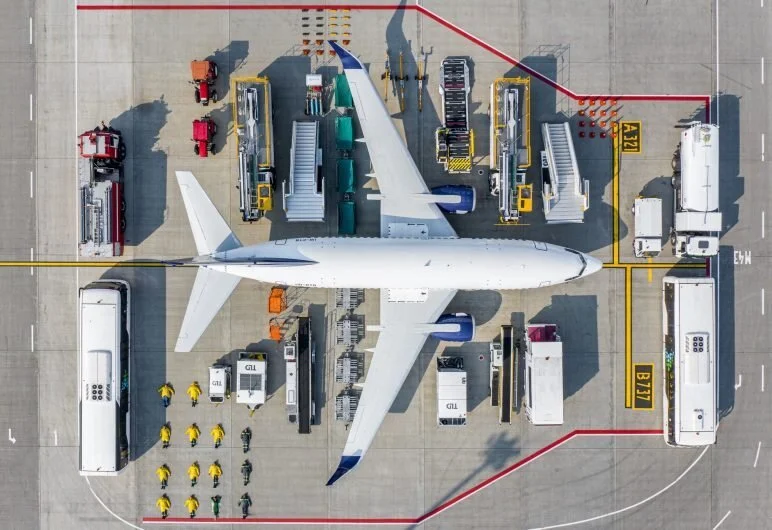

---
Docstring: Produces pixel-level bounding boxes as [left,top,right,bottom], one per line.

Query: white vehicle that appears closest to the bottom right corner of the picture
[662,275,716,449]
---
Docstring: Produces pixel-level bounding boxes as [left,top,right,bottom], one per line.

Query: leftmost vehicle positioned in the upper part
[78,120,127,257]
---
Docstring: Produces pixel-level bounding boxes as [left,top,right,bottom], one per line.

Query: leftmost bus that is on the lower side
[78,276,133,476]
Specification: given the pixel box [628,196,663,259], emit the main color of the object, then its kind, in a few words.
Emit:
white van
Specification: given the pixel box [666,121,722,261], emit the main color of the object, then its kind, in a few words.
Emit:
white truck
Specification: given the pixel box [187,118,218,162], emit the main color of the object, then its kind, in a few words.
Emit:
red work vehicle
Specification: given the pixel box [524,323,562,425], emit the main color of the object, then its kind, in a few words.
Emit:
white truck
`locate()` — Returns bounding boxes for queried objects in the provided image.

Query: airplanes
[160,41,601,487]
